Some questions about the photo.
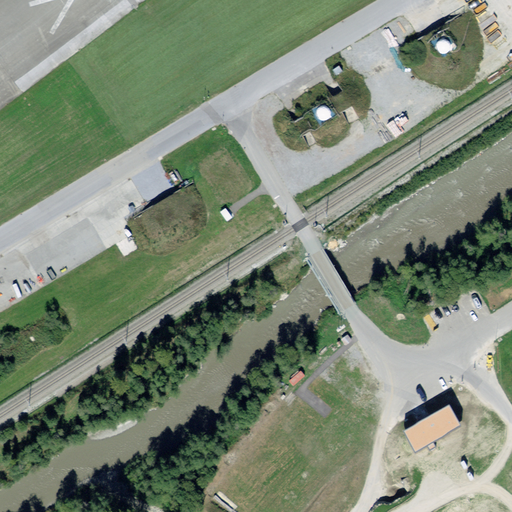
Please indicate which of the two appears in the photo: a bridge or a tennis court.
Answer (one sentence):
Visible in the photo is a bridge.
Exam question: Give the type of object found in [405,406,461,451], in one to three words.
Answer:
building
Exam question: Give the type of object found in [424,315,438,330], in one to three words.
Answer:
vehicle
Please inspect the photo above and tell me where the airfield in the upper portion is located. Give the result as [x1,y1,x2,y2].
[0,0,428,312]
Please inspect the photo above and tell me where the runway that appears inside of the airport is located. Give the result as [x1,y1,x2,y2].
[0,0,123,110]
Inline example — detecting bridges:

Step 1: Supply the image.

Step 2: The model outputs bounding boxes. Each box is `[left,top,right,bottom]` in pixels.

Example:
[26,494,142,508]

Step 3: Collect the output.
[304,248,358,316]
